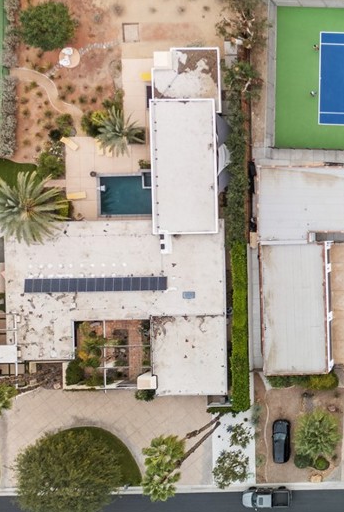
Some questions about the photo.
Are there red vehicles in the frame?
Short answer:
No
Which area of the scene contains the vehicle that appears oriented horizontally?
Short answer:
bottom right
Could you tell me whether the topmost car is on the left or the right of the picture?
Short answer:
right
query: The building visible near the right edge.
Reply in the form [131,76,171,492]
[258,166,344,375]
